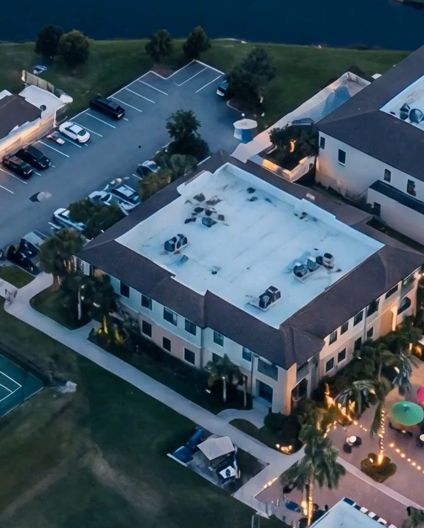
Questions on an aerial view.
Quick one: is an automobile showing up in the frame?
Yes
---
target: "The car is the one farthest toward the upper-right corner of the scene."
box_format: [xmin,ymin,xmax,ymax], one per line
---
[215,79,230,95]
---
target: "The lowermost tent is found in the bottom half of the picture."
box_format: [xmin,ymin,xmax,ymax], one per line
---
[197,431,243,462]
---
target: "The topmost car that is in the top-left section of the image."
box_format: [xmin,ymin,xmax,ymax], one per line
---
[94,96,121,117]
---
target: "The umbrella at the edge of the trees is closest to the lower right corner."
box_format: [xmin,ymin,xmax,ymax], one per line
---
[391,403,424,430]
